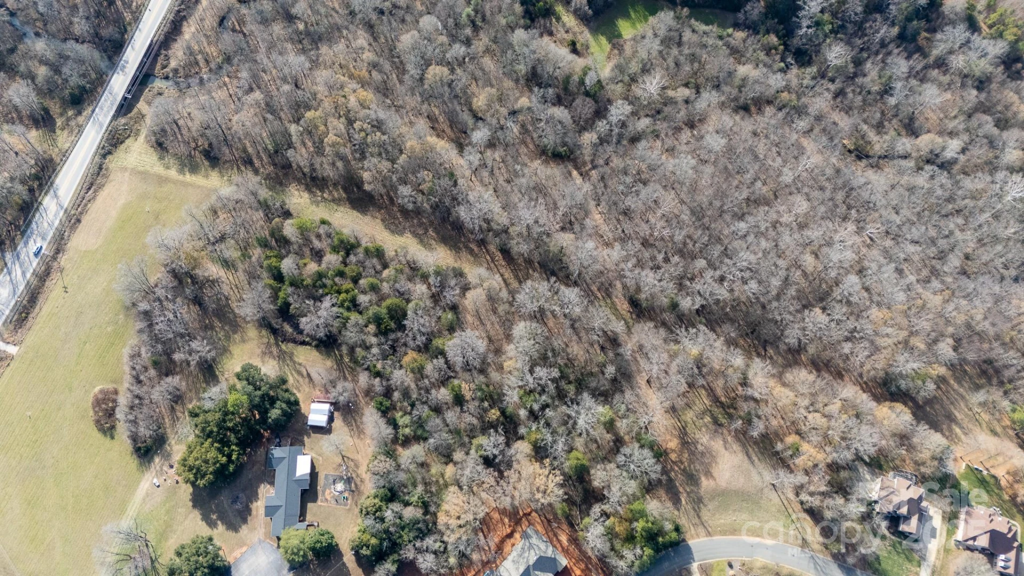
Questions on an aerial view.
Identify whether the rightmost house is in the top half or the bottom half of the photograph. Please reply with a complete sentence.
Seen from above, the rightmost house lies in the bottom half of the view.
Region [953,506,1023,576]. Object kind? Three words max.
house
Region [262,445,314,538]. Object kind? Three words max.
house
